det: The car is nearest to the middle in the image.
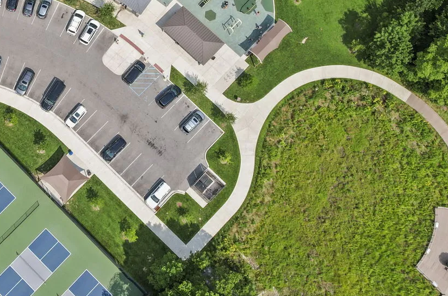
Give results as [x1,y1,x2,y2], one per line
[181,108,206,135]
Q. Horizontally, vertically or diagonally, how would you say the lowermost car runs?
diagonally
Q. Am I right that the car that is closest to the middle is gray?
Yes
